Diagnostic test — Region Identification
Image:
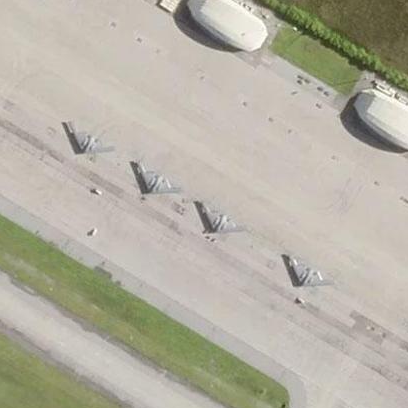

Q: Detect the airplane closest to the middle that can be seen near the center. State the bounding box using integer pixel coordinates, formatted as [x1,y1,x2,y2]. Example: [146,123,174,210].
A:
[197,204,245,233]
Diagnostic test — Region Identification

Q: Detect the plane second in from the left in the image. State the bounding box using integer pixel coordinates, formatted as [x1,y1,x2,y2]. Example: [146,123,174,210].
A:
[134,165,182,194]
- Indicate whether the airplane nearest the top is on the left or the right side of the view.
left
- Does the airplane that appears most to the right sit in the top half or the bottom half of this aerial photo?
bottom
